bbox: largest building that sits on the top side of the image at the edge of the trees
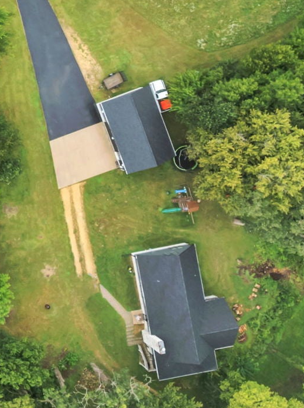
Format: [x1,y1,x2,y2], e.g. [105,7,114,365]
[98,84,177,174]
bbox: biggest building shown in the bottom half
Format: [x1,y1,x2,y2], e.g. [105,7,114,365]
[131,242,239,381]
